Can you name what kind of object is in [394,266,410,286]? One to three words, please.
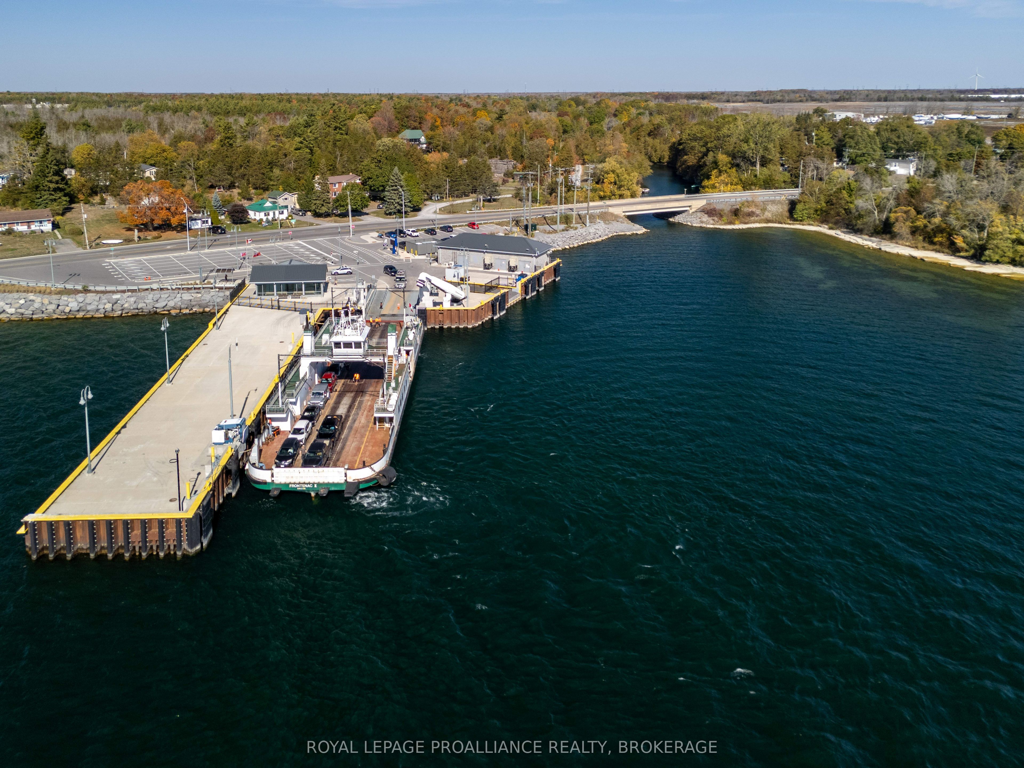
vehicle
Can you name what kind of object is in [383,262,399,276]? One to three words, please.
car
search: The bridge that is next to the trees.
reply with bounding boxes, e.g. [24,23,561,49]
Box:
[574,195,708,217]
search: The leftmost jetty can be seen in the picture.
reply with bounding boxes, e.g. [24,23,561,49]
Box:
[11,279,381,559]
